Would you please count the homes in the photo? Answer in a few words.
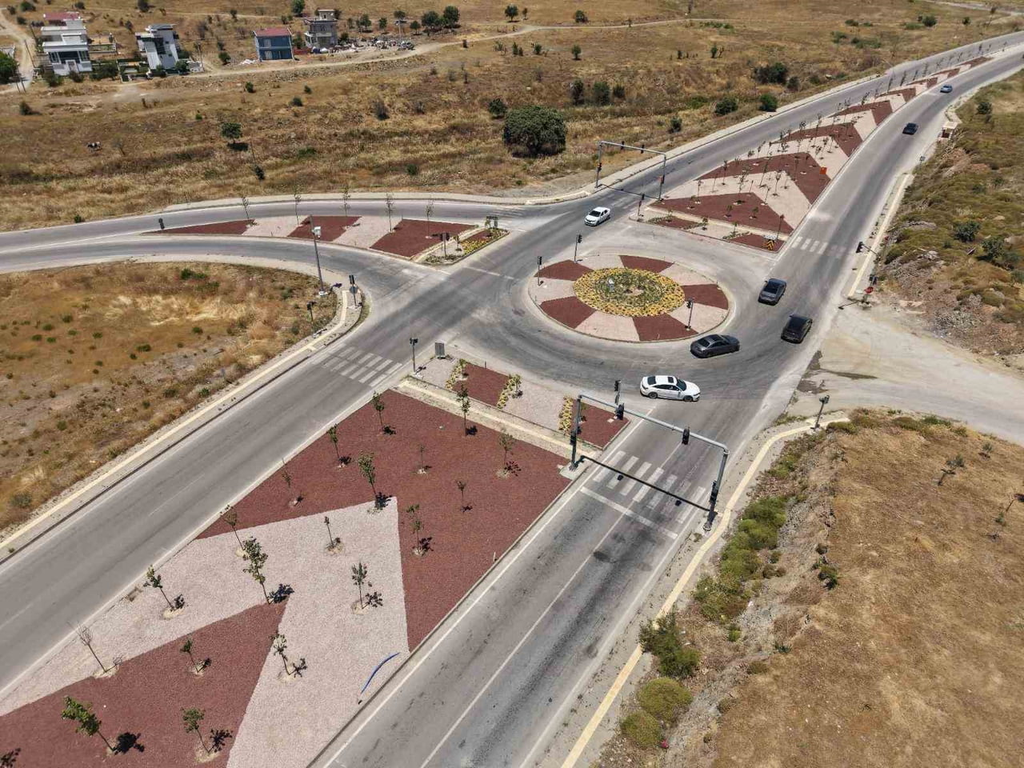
4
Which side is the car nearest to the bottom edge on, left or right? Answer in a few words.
right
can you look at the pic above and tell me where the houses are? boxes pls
[131,23,188,72]
[33,16,94,77]
[299,6,337,50]
[246,27,294,63]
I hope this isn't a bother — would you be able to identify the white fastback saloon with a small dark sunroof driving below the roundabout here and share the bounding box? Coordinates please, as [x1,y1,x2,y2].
[643,374,701,400]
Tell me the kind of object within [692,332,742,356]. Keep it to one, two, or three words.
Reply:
car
